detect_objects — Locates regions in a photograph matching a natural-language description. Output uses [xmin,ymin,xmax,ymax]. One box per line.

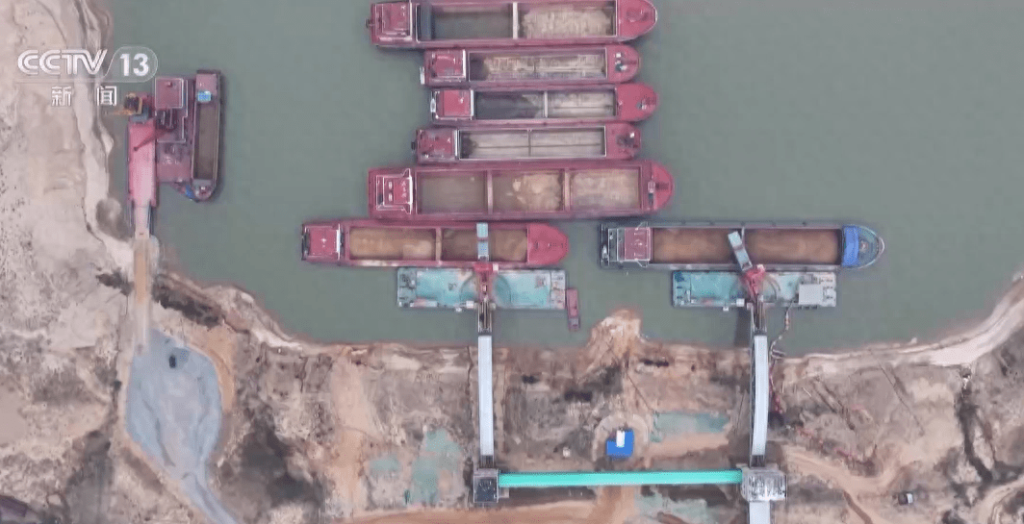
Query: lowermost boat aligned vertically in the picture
[567,289,579,330]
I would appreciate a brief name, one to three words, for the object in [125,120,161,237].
pier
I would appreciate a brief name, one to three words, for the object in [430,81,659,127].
ship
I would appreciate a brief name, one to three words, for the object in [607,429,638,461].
shed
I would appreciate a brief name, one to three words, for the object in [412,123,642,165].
ship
